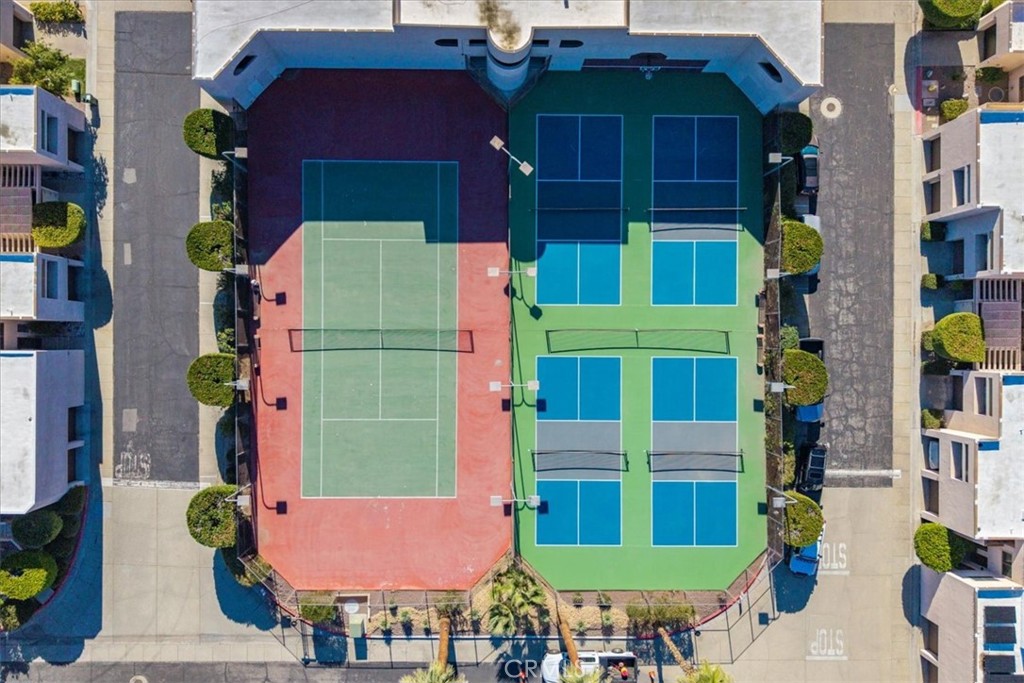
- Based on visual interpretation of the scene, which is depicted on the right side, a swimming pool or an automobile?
automobile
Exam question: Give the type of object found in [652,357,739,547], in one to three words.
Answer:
sports court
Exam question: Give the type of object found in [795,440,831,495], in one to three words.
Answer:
car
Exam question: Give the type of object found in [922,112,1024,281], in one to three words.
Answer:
house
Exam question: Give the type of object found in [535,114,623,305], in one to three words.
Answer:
sports court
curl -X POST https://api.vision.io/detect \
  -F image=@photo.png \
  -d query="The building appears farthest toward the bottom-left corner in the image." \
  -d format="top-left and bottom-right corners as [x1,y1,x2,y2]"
[0,350,84,514]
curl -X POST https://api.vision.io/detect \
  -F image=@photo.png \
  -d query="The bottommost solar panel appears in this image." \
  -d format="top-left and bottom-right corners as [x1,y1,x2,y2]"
[984,656,1017,671]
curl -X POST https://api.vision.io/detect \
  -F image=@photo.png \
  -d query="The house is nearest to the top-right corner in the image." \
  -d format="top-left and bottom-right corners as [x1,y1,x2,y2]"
[977,5,1024,103]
